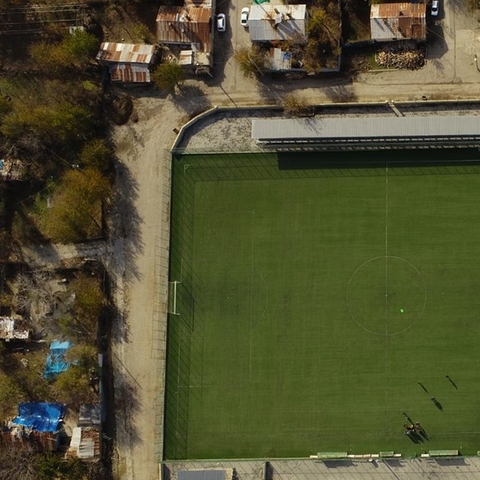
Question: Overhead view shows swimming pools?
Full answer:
No, I find no swimming pool anywhere in the image.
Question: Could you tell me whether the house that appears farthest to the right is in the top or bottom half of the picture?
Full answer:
Seen from above, the house that appears farthest to the right lies in the top half of the view.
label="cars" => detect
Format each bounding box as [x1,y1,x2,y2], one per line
[217,14,226,31]
[430,0,439,17]
[240,7,250,27]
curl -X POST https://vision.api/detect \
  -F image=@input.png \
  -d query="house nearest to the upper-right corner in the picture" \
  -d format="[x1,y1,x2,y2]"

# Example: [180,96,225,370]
[370,3,427,46]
